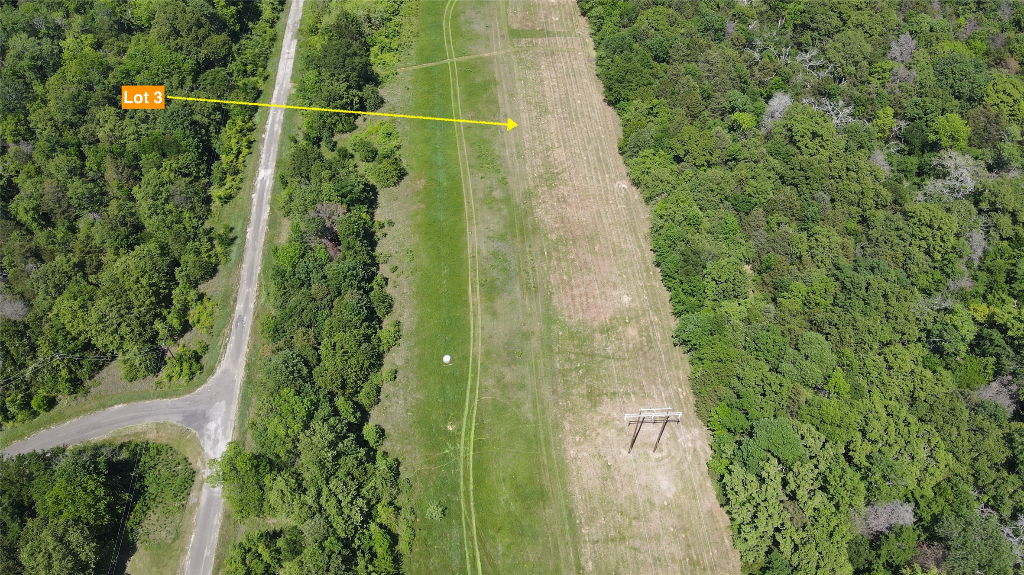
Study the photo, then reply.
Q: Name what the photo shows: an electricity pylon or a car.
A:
electricity pylon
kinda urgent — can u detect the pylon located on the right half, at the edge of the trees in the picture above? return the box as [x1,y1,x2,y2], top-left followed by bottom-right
[625,406,681,455]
